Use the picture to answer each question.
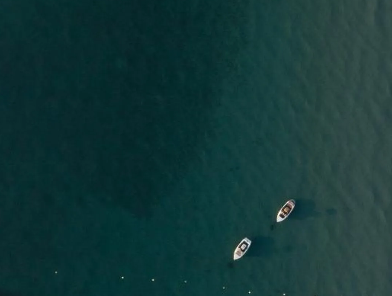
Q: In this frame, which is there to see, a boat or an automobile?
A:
boat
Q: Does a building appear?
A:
No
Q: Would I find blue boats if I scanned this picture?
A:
No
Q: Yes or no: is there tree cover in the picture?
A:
No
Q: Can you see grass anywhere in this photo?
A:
No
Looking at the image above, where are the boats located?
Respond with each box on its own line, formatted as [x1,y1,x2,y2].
[235,237,252,259]
[278,200,296,222]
